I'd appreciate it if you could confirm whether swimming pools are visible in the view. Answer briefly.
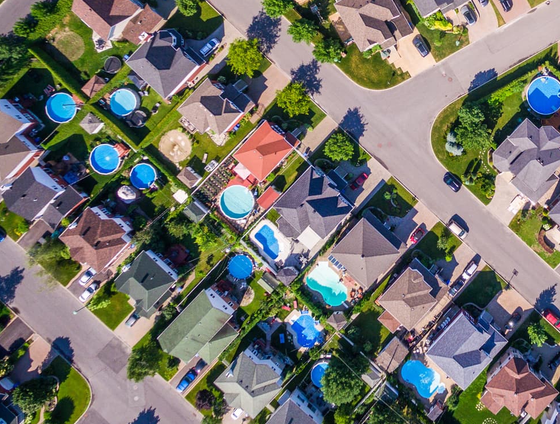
Yes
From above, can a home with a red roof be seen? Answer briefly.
Yes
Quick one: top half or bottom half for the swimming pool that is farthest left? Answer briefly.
top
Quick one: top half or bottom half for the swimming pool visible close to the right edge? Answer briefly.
top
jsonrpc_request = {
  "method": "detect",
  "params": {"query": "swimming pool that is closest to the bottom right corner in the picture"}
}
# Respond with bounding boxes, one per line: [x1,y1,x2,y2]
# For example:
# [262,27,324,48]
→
[399,357,444,401]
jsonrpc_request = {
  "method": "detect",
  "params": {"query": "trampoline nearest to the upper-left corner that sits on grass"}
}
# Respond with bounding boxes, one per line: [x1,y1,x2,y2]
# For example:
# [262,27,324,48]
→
[104,57,122,73]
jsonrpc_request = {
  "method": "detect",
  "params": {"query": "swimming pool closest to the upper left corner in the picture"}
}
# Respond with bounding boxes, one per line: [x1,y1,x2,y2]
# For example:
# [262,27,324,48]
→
[45,92,80,123]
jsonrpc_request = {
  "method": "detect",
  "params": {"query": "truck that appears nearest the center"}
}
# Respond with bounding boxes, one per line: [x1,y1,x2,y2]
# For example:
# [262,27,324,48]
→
[347,169,372,194]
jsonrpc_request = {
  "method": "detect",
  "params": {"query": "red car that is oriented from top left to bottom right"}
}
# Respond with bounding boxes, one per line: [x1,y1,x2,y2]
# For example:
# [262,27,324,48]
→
[541,307,560,328]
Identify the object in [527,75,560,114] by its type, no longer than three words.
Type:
swimming pool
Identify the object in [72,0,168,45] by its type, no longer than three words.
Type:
house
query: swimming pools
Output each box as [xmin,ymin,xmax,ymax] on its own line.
[527,75,560,114]
[89,143,123,175]
[219,185,256,220]
[129,162,159,190]
[305,259,350,308]
[290,313,324,350]
[308,361,331,388]
[45,92,80,123]
[399,357,444,401]
[252,222,281,261]
[108,88,142,119]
